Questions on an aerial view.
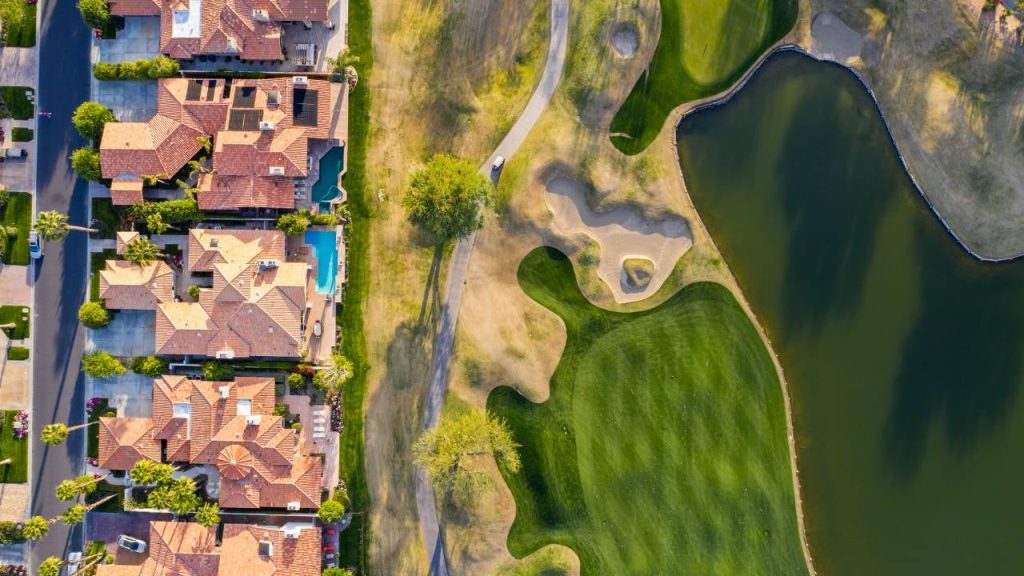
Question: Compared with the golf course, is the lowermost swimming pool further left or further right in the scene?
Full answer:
The lowermost swimming pool is to the left of the golf course.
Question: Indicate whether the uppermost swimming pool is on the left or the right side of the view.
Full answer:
The uppermost swimming pool sits on the left side.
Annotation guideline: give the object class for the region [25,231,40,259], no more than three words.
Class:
car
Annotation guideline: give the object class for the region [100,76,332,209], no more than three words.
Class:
house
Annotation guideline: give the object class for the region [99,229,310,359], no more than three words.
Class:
house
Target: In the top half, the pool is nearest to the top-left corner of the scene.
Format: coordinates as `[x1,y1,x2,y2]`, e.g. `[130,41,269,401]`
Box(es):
[311,145,345,213]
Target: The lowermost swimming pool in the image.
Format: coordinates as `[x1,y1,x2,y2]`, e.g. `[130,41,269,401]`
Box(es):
[304,229,338,295]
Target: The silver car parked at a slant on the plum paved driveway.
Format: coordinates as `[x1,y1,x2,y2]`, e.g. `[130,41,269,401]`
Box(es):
[116,536,144,555]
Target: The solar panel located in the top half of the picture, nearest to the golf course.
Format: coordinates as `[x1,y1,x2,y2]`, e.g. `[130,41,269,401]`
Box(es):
[292,88,319,127]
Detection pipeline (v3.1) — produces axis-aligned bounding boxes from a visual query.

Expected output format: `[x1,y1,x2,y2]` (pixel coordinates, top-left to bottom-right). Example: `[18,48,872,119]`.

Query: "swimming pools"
[304,229,338,295]
[311,145,345,213]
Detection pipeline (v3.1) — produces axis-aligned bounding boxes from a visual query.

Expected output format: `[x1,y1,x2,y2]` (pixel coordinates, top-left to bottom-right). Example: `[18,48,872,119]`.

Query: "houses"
[99,374,323,510]
[100,76,332,209]
[99,229,310,359]
[96,518,324,576]
[109,0,330,63]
